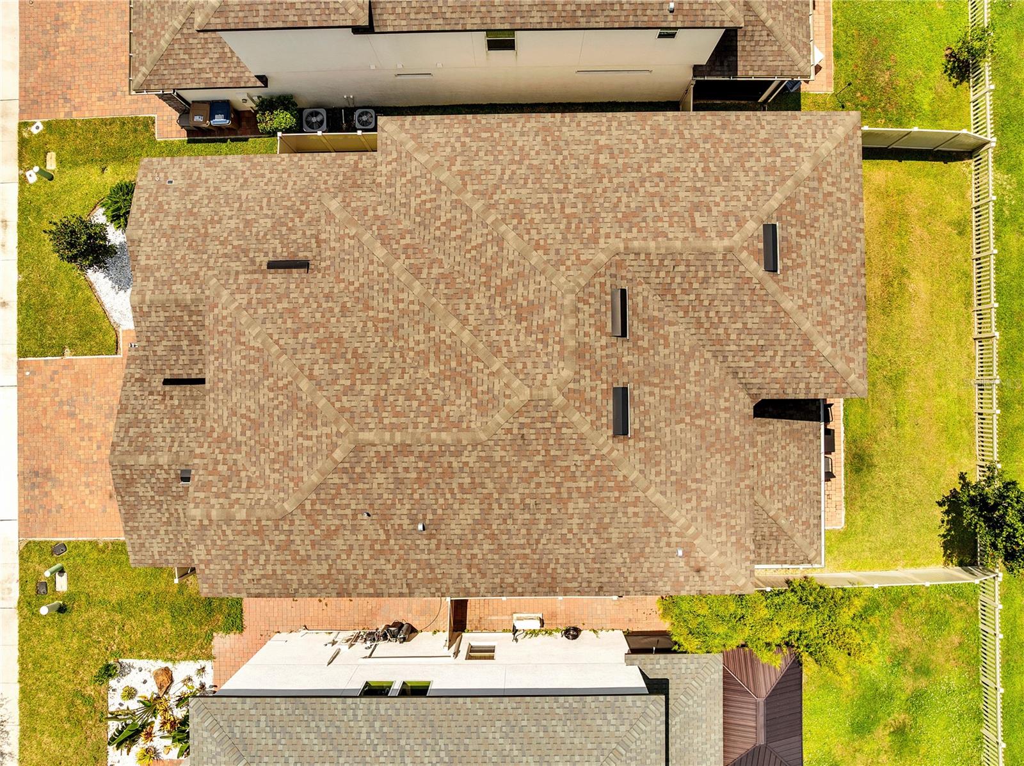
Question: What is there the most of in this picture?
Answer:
buildings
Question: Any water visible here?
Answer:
No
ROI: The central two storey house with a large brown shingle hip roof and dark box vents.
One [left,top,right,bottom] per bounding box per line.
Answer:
[108,111,865,597]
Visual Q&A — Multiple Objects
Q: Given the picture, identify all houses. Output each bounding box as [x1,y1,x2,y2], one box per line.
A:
[190,631,726,766]
[127,0,814,108]
[108,111,865,597]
